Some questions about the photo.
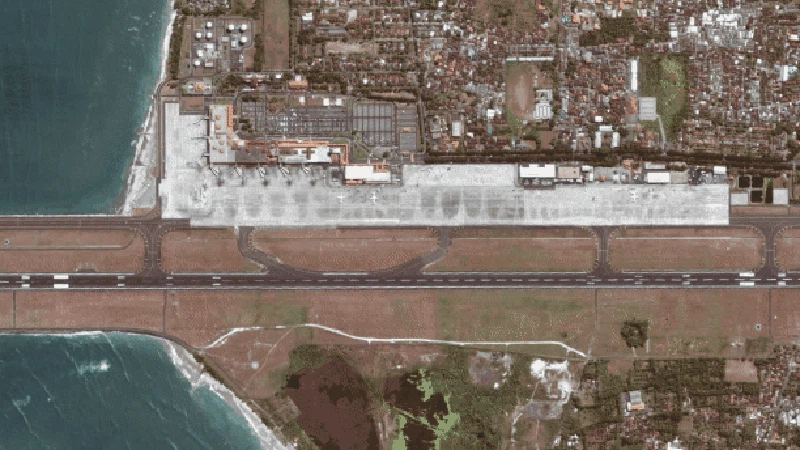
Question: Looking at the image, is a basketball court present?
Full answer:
No, I can see no basketball court in this picture.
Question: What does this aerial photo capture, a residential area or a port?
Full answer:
It's a residential area.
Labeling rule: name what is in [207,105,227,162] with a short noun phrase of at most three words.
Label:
building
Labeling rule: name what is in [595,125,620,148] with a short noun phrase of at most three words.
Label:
building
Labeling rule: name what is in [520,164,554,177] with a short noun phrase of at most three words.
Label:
hangar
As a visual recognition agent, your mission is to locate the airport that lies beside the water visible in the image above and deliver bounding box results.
[0,102,800,291]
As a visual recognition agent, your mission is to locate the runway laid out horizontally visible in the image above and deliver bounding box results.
[0,270,800,291]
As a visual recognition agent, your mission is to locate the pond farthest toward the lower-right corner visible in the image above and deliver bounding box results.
[384,370,462,450]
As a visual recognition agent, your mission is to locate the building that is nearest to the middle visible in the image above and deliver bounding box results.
[345,164,391,184]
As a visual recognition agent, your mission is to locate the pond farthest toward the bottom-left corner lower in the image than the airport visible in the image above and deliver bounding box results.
[284,357,380,450]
